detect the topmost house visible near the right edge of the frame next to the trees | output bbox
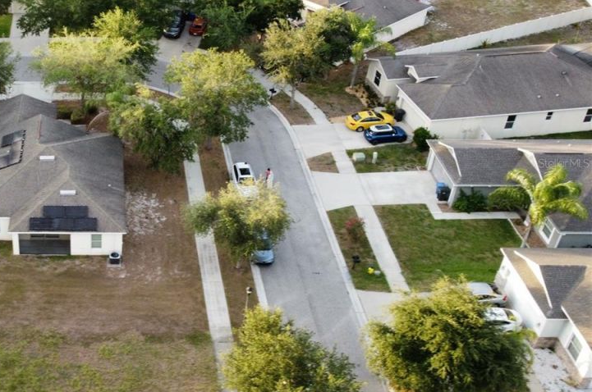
[363,45,592,140]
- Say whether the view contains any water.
No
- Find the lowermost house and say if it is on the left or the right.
right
